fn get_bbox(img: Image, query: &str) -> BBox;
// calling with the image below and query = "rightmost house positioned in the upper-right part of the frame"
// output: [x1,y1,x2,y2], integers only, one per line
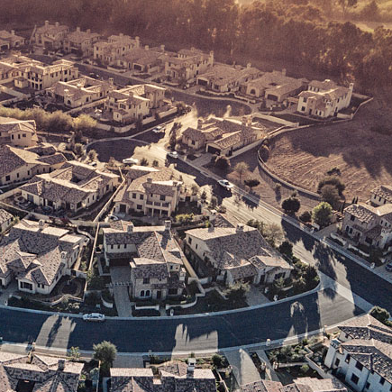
[291,79,359,117]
